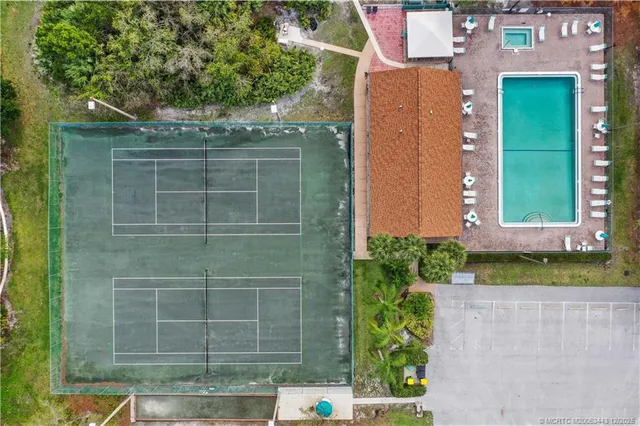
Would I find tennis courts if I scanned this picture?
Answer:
Yes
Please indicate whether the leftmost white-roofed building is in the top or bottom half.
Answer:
top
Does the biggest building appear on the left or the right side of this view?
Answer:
right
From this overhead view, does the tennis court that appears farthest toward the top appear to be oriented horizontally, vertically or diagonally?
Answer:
horizontally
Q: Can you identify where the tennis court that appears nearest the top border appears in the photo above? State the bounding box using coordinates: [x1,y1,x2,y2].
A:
[62,127,351,256]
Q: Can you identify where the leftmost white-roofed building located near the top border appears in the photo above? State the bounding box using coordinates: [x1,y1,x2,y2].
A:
[404,11,454,63]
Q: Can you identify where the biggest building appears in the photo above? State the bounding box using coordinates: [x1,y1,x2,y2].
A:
[369,66,464,238]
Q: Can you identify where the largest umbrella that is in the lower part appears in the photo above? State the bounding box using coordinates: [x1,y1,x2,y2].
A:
[315,400,332,417]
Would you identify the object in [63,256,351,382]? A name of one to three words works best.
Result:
tennis court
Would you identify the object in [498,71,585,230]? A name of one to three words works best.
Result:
swimming pool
